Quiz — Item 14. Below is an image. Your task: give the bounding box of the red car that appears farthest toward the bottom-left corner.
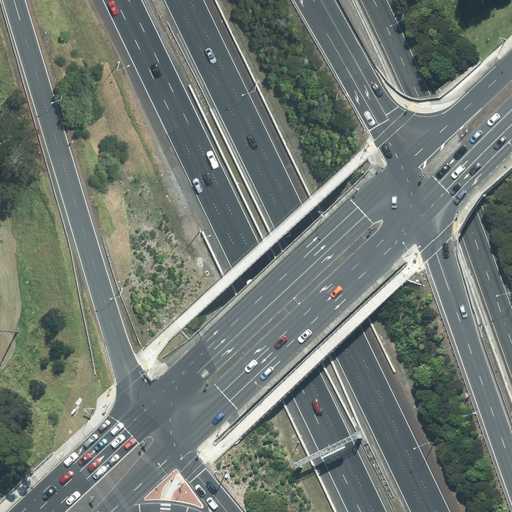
[59,470,74,485]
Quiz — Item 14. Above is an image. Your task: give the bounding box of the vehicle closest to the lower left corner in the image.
[42,486,57,500]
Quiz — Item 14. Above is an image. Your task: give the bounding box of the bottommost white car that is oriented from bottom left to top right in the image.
[66,492,80,506]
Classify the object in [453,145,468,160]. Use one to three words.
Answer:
car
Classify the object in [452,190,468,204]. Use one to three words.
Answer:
car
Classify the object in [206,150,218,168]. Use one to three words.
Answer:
vehicle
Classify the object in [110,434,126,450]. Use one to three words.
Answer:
vehicle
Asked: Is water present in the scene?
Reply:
No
